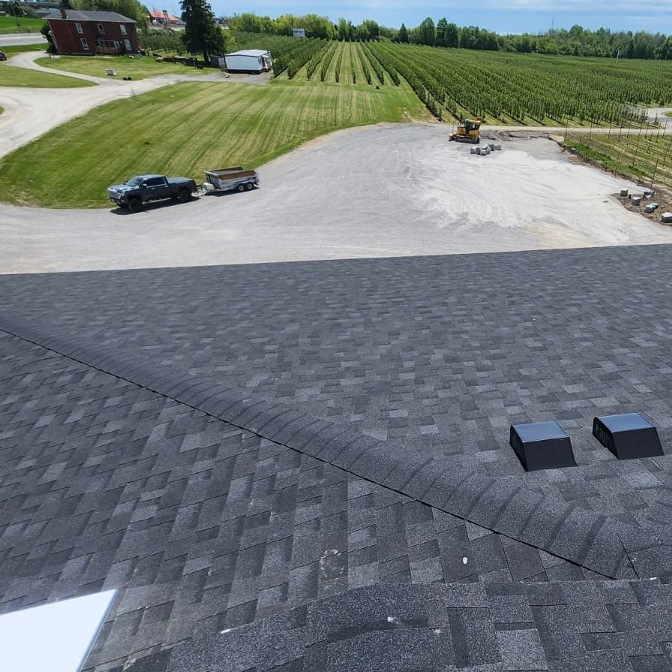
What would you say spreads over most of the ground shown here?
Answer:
buildings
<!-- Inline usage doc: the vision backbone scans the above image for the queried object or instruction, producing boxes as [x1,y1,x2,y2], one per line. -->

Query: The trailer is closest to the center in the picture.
[196,165,260,192]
